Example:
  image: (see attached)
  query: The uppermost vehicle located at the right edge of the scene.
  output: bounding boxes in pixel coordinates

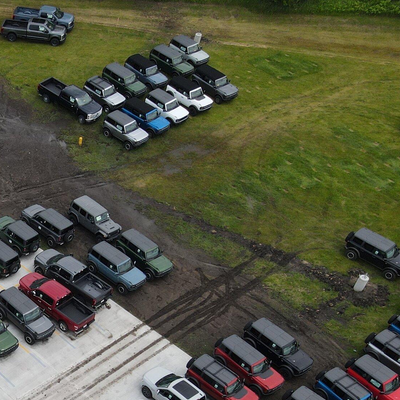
[342,228,400,281]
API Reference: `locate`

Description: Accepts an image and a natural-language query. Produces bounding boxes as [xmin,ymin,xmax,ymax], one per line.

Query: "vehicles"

[31,245,113,311]
[137,364,205,400]
[188,66,238,106]
[0,318,19,358]
[241,318,313,379]
[114,231,173,284]
[0,286,55,344]
[213,334,283,397]
[84,241,145,295]
[342,228,400,281]
[167,36,209,71]
[65,196,122,245]
[123,56,167,95]
[343,354,400,400]
[16,271,95,335]
[120,99,171,140]
[148,46,194,81]
[144,89,188,128]
[0,217,41,259]
[311,366,378,400]
[82,77,126,115]
[185,353,259,400]
[164,77,213,118]
[101,64,146,103]
[18,206,75,248]
[2,19,67,49]
[13,7,77,35]
[38,79,104,126]
[0,239,22,279]
[101,112,148,153]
